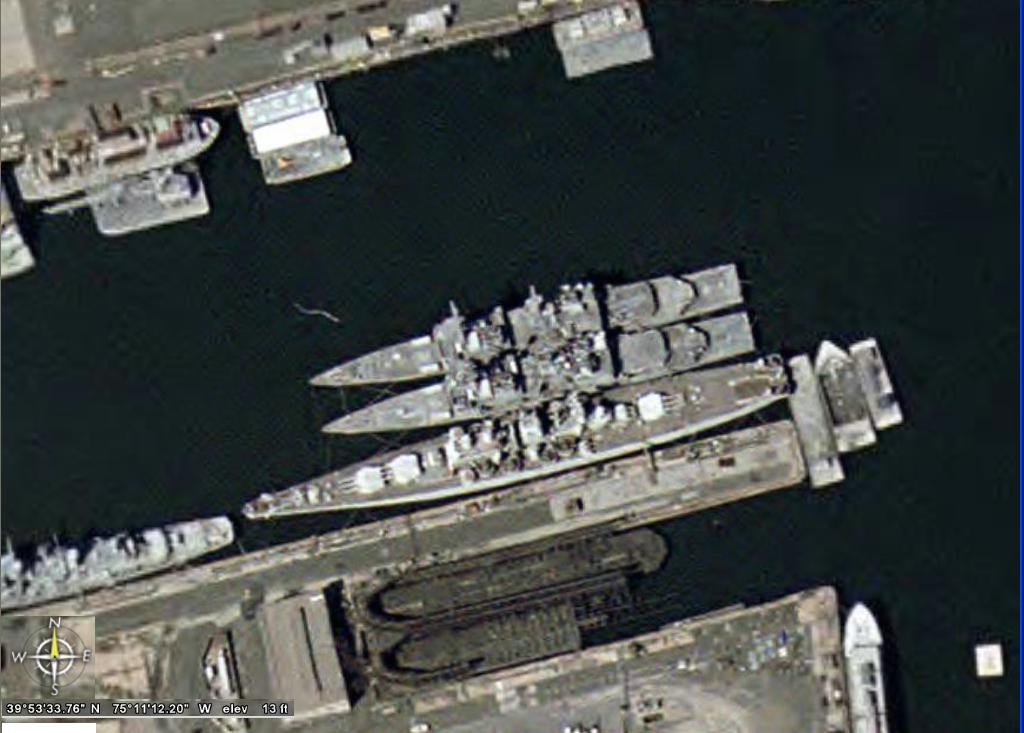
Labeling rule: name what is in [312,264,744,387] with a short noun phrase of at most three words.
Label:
vessel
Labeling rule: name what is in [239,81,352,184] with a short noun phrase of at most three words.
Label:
ship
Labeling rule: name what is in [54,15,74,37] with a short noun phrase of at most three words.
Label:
shed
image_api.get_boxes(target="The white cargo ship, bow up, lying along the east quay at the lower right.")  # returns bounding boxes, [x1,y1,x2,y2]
[845,603,887,733]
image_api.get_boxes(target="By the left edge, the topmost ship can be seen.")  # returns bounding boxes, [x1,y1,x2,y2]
[15,104,219,201]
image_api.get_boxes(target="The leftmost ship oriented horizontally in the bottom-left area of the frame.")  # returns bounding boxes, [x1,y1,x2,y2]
[0,516,234,612]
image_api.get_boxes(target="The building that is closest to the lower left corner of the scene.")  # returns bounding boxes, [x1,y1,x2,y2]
[263,591,350,725]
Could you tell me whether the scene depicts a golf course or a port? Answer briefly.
port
